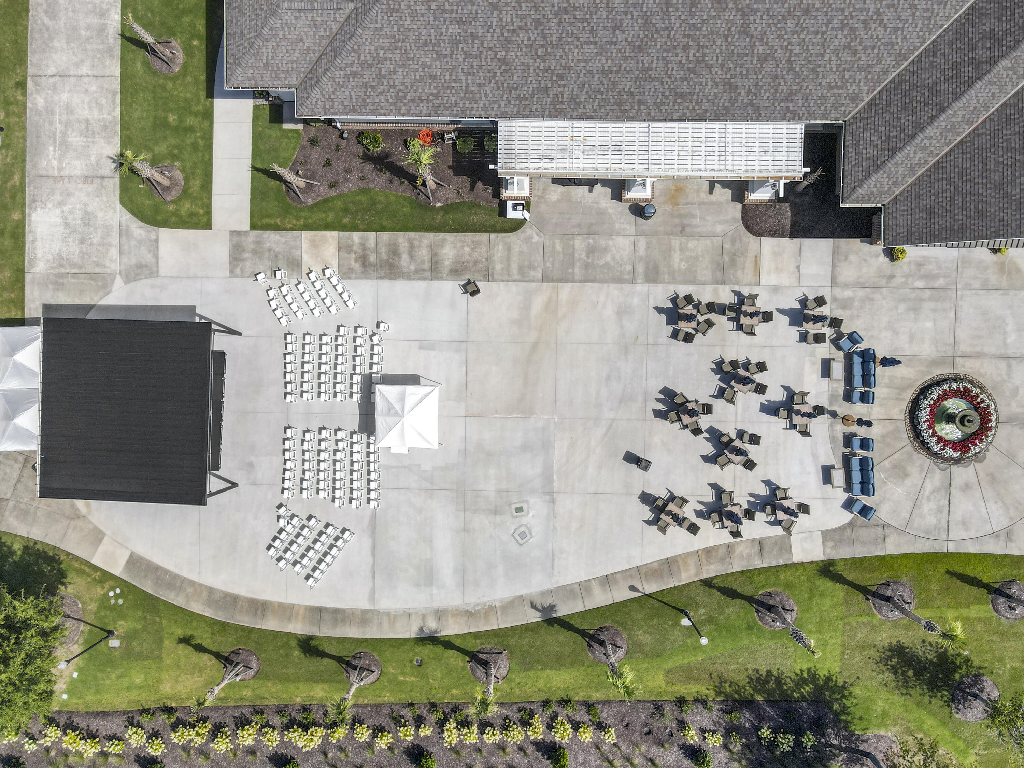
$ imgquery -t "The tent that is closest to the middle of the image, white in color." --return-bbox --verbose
[375,384,444,448]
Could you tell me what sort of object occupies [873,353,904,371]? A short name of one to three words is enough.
umbrella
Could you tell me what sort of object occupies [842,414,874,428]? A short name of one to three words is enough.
umbrella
